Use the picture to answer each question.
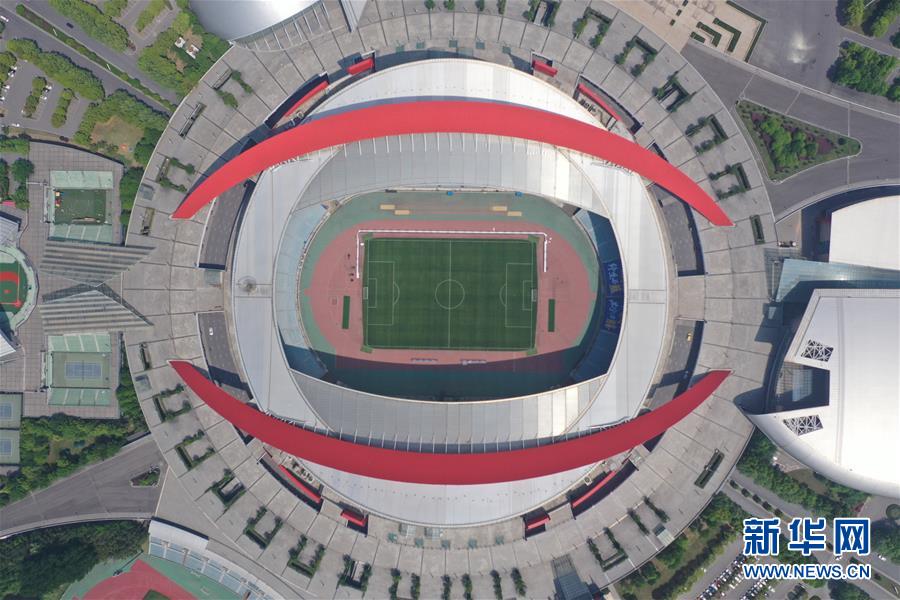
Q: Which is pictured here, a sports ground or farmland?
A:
sports ground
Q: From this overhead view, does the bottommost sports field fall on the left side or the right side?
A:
left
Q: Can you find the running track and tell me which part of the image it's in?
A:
center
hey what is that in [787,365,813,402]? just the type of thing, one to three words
building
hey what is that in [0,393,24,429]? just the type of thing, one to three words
tennis court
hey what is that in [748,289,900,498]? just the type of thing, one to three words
building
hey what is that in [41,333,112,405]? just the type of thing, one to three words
tennis court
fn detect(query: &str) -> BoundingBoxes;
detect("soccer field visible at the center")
[362,237,536,351]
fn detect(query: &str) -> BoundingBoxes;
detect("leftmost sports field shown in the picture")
[66,551,238,600]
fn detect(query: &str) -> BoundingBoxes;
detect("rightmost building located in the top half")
[816,195,900,271]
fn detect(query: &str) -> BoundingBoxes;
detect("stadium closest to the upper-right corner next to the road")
[167,56,735,528]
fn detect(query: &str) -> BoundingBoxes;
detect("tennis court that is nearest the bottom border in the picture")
[0,428,24,465]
